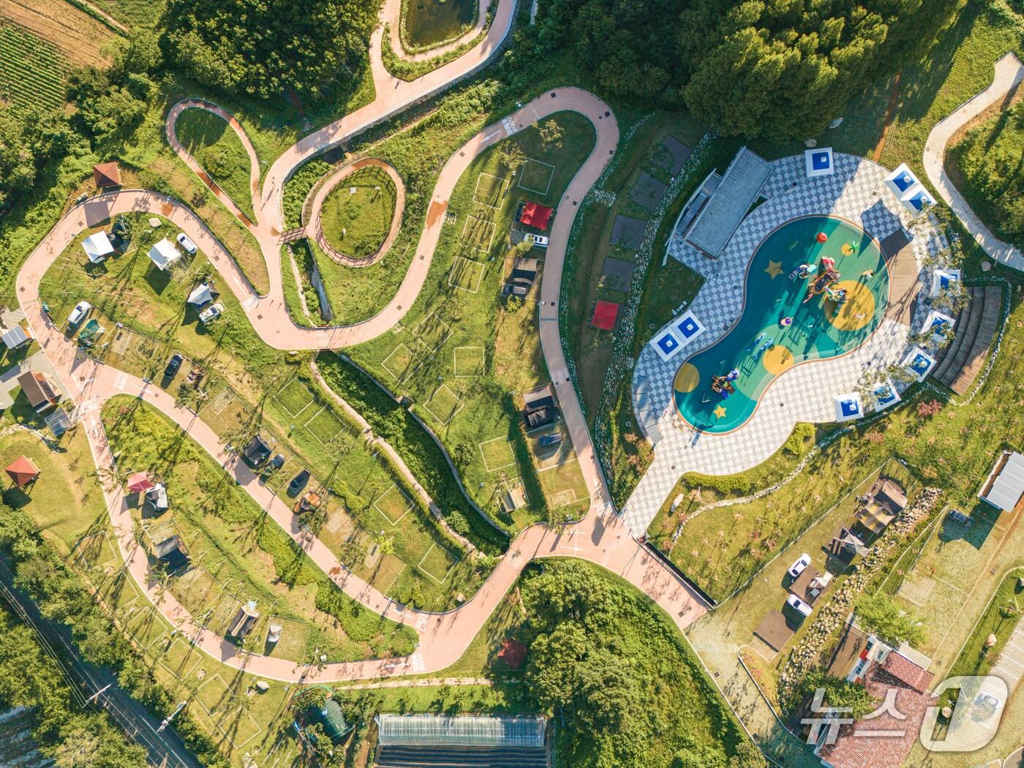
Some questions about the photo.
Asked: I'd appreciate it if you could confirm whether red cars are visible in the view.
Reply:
No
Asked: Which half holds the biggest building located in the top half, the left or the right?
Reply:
right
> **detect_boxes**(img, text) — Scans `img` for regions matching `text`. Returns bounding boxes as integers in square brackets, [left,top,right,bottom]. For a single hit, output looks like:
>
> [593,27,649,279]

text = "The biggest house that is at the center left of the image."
[18,370,68,414]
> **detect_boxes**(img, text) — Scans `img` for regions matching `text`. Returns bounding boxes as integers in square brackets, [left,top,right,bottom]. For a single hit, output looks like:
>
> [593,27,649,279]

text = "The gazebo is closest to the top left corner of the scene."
[96,163,129,192]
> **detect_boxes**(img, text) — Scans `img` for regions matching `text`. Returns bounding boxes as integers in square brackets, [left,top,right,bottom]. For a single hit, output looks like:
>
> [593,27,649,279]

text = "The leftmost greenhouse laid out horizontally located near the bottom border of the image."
[376,713,546,745]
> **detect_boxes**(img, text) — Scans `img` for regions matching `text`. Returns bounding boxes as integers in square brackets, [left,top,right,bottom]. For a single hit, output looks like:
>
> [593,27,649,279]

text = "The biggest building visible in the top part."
[682,150,774,258]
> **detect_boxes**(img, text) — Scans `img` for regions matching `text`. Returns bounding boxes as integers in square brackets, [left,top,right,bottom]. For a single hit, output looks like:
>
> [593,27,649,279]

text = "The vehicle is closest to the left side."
[67,301,92,327]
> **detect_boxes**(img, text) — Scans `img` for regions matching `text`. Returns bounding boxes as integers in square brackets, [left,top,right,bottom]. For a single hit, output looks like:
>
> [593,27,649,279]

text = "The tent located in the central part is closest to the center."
[523,386,560,427]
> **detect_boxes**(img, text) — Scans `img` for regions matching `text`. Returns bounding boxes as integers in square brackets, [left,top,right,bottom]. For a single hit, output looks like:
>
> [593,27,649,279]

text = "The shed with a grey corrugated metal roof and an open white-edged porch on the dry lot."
[973,449,1024,513]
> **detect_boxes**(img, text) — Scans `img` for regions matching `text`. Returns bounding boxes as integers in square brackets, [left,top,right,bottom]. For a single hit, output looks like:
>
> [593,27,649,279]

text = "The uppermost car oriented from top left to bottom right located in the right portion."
[944,507,970,529]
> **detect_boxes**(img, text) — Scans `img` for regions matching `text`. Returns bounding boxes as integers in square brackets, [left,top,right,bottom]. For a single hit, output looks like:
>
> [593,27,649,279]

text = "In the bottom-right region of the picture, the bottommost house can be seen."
[815,633,939,768]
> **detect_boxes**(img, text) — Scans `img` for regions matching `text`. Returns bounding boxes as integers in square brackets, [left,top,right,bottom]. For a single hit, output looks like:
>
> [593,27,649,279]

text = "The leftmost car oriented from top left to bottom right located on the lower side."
[786,593,813,618]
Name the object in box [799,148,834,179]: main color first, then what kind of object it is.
blue umbrella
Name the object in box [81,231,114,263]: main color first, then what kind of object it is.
white tent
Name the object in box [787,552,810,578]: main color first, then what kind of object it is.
white car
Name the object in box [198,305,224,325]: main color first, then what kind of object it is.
white car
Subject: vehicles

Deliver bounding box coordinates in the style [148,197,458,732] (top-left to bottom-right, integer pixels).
[524,233,548,246]
[67,301,92,327]
[787,552,810,578]
[163,353,185,379]
[287,468,311,495]
[265,450,287,473]
[537,432,563,447]
[786,593,813,618]
[178,232,199,256]
[944,507,970,529]
[198,305,224,325]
